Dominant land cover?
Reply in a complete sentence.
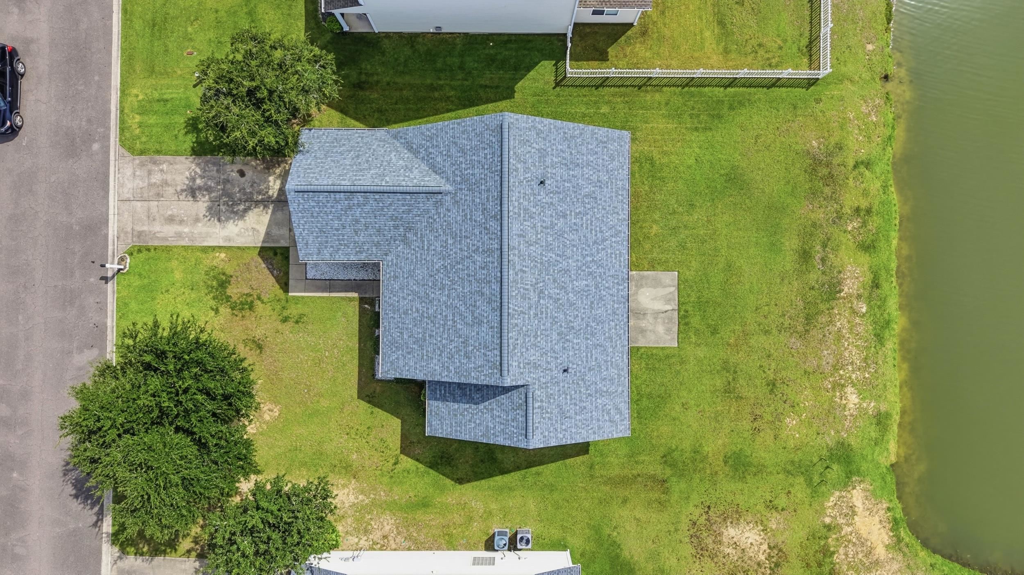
The scene is dominated by grass.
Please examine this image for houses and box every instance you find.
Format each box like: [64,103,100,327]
[304,548,582,575]
[322,0,653,35]
[285,111,631,450]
